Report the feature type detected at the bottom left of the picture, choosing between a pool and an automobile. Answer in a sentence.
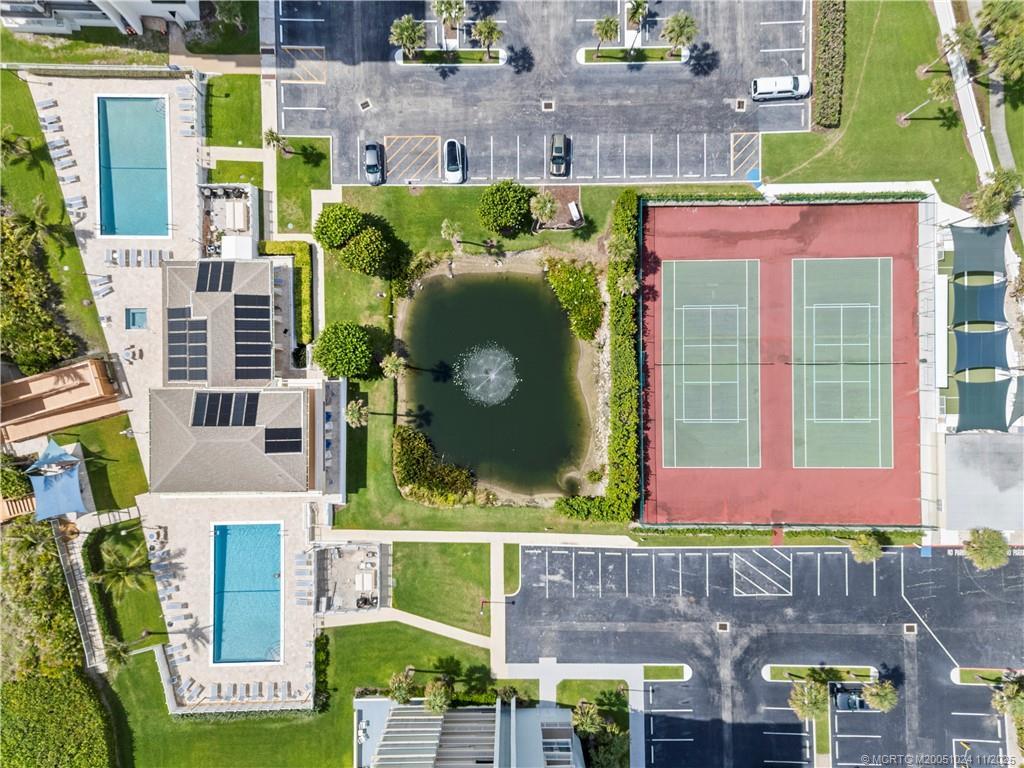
The one visible at the bottom left of the picture is a pool.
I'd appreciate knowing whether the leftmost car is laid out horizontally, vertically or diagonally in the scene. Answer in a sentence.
The leftmost car has been laid out vertically relative to the frame.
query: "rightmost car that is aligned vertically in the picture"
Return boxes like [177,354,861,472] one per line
[549,134,570,178]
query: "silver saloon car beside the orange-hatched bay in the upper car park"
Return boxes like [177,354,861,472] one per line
[363,142,383,186]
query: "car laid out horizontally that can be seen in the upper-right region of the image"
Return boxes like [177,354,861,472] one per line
[751,75,808,102]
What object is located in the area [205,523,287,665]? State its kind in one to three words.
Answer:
swimming pool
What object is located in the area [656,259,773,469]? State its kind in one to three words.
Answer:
tennis court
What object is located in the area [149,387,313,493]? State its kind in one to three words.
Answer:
building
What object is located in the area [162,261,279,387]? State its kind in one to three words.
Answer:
building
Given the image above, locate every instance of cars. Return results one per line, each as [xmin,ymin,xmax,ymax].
[836,690,880,713]
[549,134,570,178]
[751,75,808,102]
[443,140,464,184]
[363,142,383,186]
